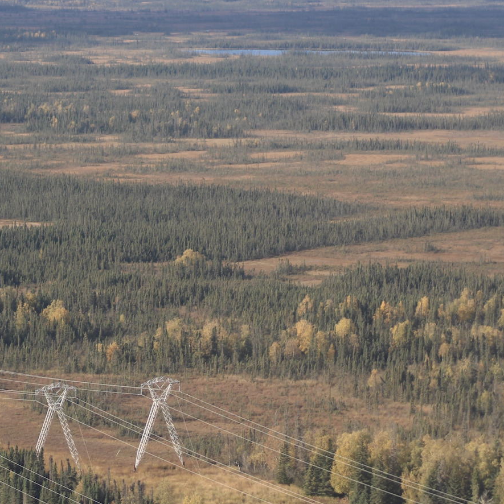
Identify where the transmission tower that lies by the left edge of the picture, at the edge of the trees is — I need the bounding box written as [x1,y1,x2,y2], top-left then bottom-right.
[24,380,93,473]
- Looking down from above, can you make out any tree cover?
Yes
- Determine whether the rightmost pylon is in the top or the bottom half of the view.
bottom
